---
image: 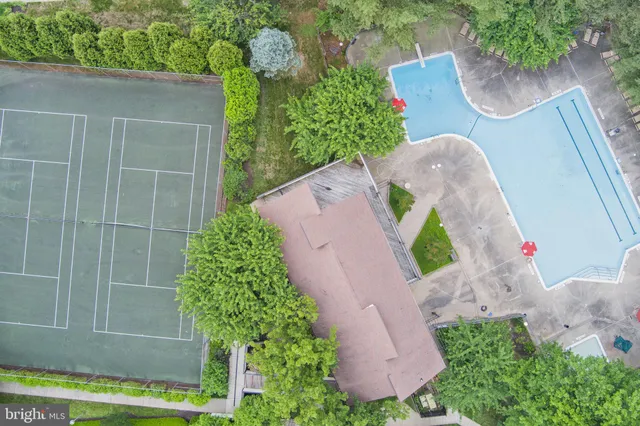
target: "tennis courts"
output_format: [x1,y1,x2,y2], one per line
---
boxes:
[78,75,226,384]
[0,67,103,372]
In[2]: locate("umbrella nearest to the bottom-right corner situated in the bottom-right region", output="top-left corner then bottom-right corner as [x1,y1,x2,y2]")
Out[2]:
[607,335,632,352]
